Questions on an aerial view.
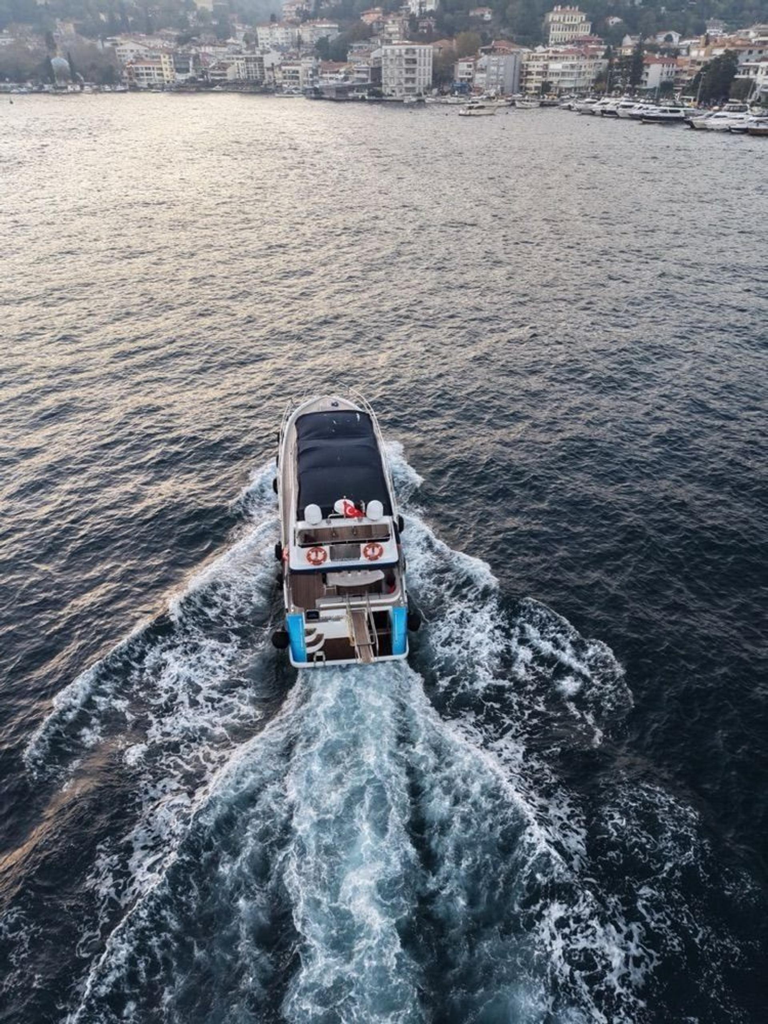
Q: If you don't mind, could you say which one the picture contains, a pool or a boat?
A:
boat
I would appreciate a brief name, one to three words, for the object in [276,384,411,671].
boat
